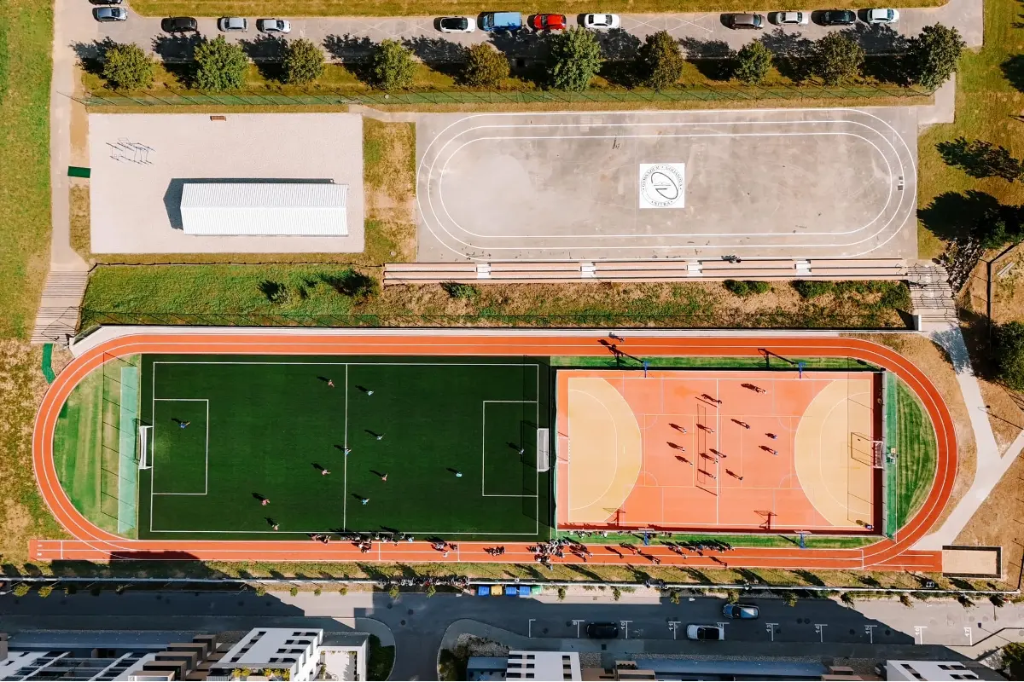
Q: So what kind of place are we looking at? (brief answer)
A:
sports ground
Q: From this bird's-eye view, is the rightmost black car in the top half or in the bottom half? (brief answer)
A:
top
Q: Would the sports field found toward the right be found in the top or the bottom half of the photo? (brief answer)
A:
top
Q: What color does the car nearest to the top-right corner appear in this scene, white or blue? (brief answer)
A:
white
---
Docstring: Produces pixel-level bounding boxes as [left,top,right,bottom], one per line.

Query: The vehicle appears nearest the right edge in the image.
[864,5,898,25]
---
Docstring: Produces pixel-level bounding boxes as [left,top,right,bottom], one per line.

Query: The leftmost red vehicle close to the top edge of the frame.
[533,11,565,31]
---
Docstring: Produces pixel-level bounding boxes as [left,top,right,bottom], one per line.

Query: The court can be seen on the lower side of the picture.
[557,370,882,534]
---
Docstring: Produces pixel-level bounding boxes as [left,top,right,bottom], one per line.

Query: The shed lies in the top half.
[180,182,354,239]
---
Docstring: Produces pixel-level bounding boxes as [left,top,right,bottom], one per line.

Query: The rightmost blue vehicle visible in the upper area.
[483,9,521,32]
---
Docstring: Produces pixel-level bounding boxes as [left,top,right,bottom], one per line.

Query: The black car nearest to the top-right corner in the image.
[821,7,857,27]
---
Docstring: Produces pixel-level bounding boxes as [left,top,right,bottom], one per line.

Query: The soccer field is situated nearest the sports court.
[138,354,551,542]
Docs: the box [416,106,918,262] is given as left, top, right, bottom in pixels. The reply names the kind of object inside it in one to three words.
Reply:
sports field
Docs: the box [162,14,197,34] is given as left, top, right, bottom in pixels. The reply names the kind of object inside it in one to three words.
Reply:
car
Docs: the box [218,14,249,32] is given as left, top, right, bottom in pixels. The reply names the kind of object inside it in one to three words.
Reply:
car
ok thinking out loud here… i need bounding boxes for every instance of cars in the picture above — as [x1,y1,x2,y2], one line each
[440,14,474,34]
[162,14,197,34]
[774,7,807,27]
[722,602,759,622]
[686,622,724,643]
[730,10,763,30]
[586,620,618,641]
[584,10,619,30]
[91,0,126,10]
[96,4,130,23]
[259,16,291,34]
[821,7,857,27]
[533,11,565,31]
[218,14,249,32]
[864,5,898,25]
